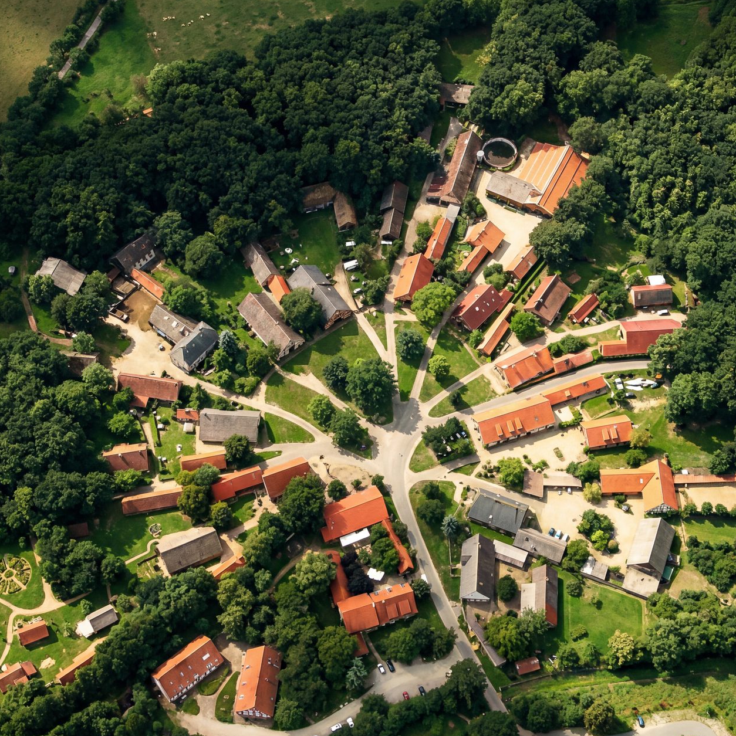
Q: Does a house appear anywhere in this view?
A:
Yes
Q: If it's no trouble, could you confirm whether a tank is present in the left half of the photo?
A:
No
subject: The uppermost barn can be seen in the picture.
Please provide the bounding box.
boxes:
[440,84,470,108]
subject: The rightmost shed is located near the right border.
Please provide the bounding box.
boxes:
[673,474,736,486]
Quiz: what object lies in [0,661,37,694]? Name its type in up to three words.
house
